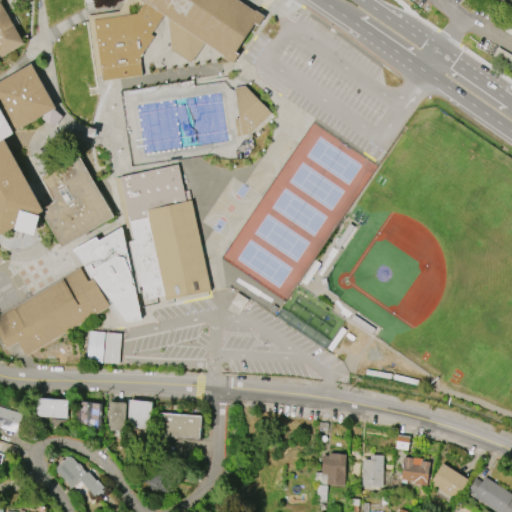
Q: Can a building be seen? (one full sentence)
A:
Yes, this view includes a building.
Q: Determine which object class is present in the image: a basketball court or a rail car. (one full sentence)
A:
Visible in the photo is a basketball court.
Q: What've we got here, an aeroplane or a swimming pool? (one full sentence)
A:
This aerial view contains a swimming pool.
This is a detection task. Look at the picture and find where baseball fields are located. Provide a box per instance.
[328,106,512,411]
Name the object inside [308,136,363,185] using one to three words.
tennis court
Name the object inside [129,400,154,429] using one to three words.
house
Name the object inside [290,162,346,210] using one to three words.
tennis court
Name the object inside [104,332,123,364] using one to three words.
building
